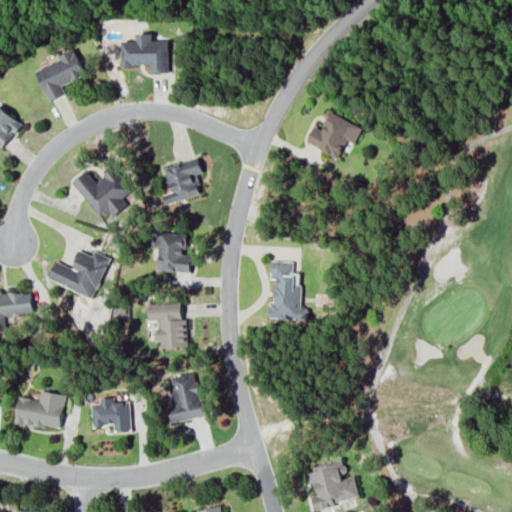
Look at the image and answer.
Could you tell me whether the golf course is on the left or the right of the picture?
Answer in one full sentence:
You can find the golf course on the right side of the picture.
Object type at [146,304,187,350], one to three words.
house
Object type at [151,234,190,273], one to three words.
house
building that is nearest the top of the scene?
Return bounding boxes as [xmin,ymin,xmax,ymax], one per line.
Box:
[121,33,168,72]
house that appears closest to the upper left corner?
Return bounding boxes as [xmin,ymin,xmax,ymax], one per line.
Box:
[36,49,84,102]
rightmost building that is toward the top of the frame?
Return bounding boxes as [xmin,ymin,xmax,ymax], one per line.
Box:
[306,110,363,160]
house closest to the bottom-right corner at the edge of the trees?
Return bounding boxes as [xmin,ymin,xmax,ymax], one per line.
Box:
[309,462,359,512]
